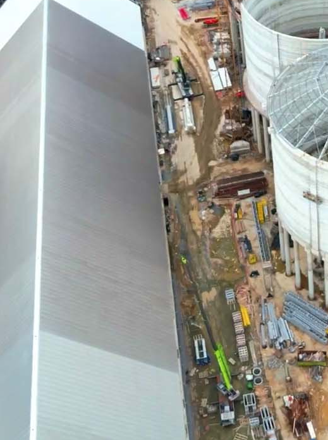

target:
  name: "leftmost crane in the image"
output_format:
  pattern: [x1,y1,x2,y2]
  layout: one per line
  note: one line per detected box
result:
[167,52,205,98]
